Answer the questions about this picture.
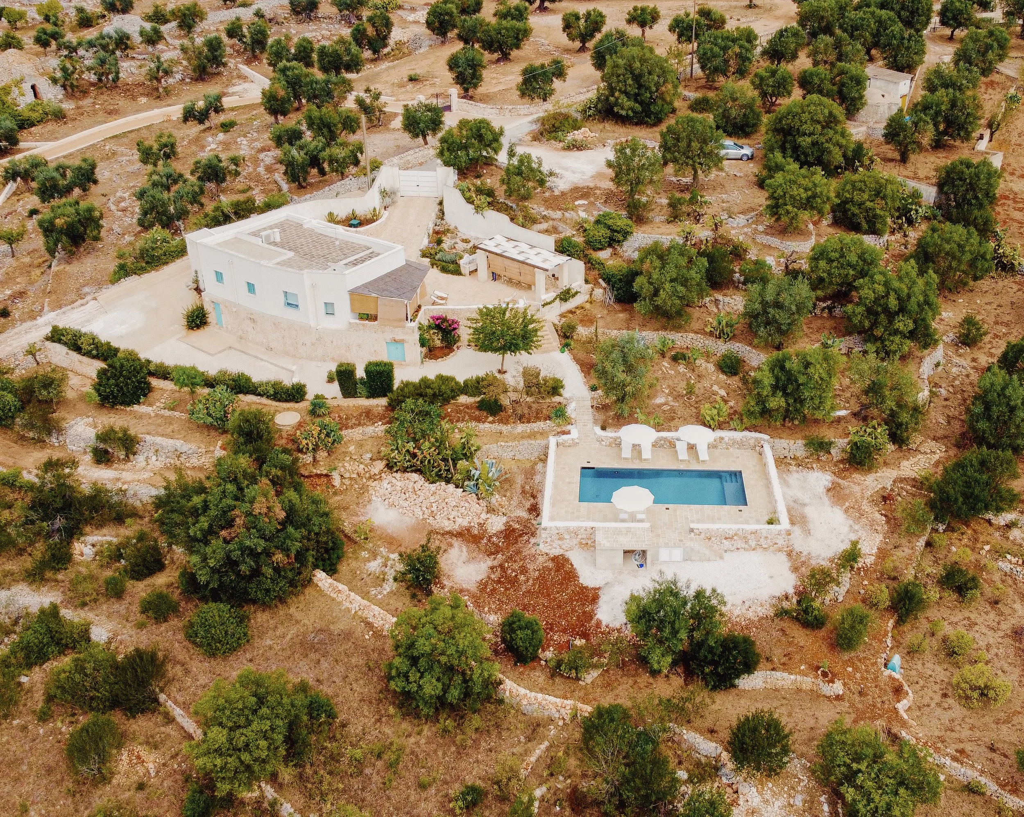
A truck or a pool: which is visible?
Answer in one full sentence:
Looking from above, you can make out a pool.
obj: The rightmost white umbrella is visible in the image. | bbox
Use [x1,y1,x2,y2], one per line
[677,424,716,464]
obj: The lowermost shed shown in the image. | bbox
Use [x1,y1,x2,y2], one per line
[595,539,652,569]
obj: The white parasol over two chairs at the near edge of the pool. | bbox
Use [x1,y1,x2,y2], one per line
[611,477,658,523]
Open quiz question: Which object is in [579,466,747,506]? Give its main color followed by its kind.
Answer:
blue swimming pool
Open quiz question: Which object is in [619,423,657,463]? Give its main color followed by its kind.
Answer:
white umbrella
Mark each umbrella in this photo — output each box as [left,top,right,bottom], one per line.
[619,423,657,463]
[677,424,716,464]
[611,477,658,523]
